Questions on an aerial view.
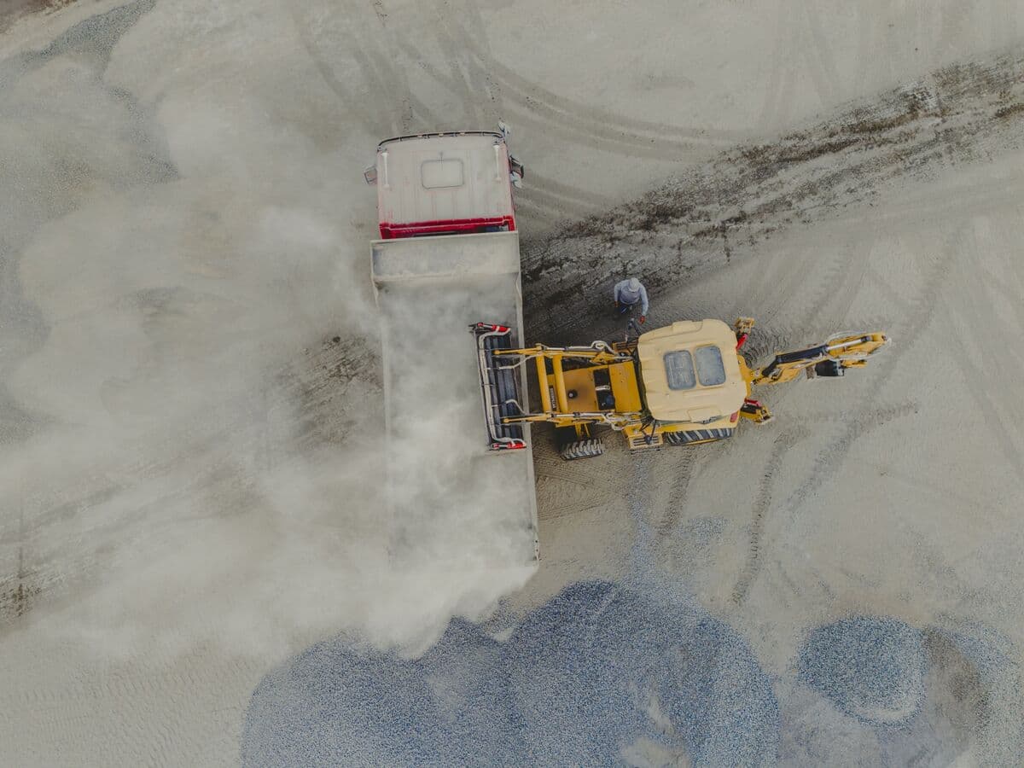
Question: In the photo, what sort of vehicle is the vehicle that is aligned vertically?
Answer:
truck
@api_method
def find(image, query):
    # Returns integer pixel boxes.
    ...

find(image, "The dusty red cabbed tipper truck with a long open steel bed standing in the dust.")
[363,119,542,573]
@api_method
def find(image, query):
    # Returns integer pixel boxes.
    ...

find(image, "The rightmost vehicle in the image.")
[467,315,892,466]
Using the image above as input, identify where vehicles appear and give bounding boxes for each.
[467,315,892,466]
[363,119,542,573]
